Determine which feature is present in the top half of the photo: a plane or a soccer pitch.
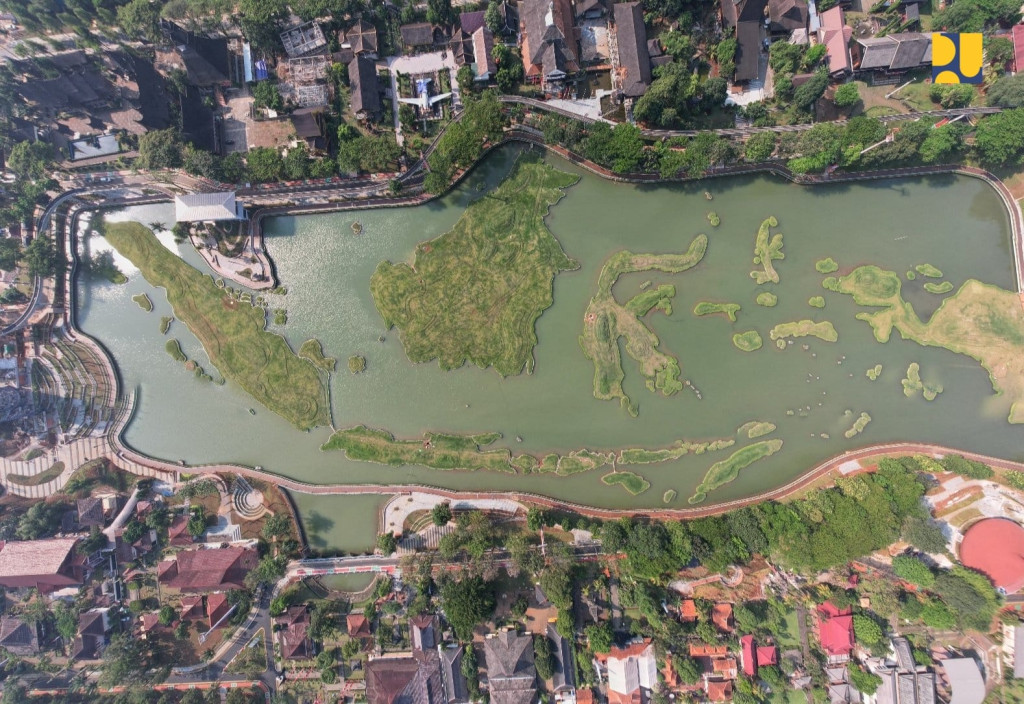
plane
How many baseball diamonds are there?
0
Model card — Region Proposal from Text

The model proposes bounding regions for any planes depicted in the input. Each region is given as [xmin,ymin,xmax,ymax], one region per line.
[398,75,452,112]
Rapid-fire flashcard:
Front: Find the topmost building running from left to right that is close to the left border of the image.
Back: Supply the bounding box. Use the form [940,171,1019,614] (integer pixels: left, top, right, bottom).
[48,49,93,72]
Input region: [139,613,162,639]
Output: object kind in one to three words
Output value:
shed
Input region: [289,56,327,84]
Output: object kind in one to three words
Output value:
building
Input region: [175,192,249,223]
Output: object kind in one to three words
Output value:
building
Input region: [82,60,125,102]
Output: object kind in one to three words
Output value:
house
